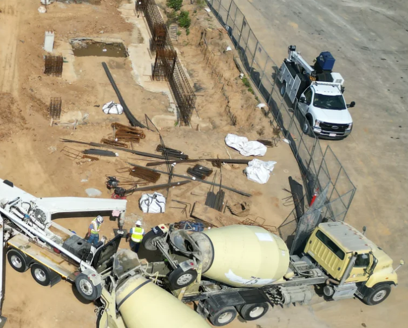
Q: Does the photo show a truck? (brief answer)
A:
Yes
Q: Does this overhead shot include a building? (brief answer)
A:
No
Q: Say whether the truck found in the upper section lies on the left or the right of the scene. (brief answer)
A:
right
